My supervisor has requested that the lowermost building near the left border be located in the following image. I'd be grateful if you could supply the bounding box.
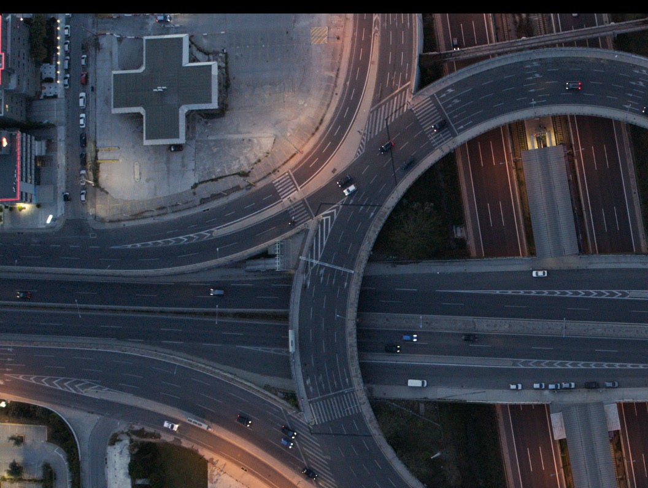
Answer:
[0,130,51,207]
